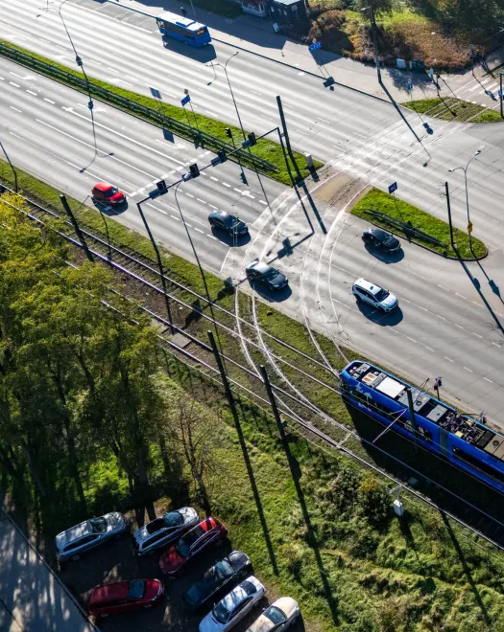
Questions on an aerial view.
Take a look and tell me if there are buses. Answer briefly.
Yes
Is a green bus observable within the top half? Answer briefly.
No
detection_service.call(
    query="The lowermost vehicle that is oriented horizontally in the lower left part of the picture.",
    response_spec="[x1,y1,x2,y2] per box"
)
[92,578,162,620]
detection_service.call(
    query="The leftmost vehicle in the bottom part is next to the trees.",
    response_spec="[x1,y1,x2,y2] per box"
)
[57,517,126,562]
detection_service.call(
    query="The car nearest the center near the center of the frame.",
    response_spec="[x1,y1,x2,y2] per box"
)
[246,263,289,293]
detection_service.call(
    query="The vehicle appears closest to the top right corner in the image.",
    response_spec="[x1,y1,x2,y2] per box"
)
[361,227,401,254]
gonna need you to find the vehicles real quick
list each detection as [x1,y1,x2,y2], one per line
[57,517,126,562]
[92,578,162,620]
[164,519,227,575]
[247,601,300,632]
[130,509,202,556]
[209,212,248,238]
[361,227,401,254]
[246,263,289,293]
[352,278,398,312]
[153,8,212,46]
[182,552,254,611]
[201,577,265,632]
[91,183,125,207]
